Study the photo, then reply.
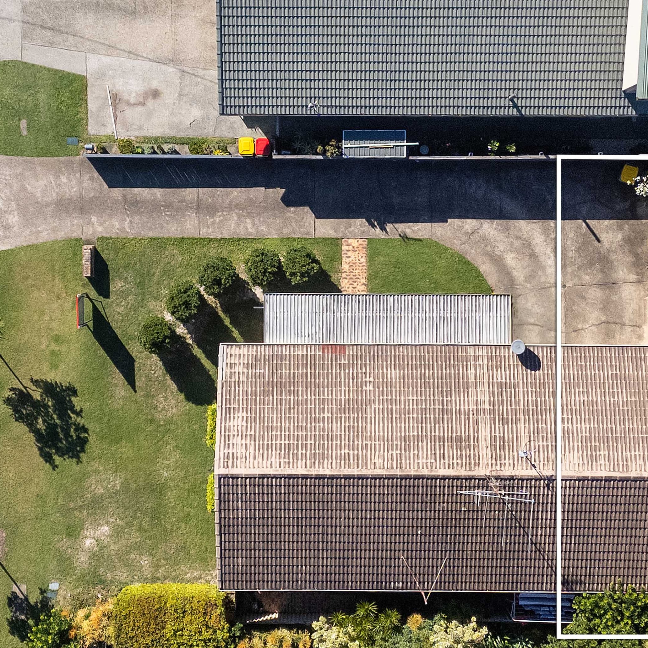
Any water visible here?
No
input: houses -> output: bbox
[213,0,648,120]
[212,342,648,597]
